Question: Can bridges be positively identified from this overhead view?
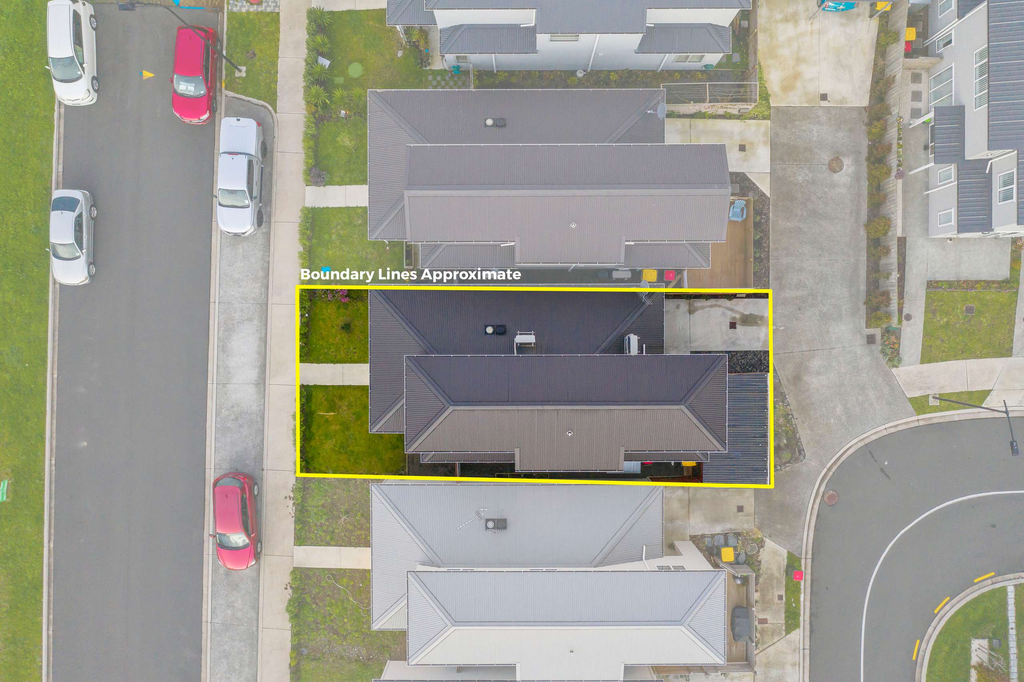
No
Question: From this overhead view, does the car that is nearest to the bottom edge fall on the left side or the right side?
left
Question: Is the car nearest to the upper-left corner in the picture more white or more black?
white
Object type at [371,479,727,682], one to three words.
house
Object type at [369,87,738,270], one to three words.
house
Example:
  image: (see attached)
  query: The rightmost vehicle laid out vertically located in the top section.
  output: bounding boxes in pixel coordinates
[210,117,267,238]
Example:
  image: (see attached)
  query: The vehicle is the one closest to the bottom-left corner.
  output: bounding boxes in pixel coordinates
[212,473,261,568]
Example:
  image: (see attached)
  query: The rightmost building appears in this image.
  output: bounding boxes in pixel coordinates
[907,0,1024,238]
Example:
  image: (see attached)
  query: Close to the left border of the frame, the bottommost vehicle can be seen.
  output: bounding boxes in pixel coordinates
[43,187,97,287]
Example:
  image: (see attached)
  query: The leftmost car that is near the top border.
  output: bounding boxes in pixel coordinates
[44,0,99,107]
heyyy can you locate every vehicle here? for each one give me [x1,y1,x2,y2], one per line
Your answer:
[210,117,267,238]
[44,0,99,107]
[212,473,261,568]
[43,187,97,287]
[165,24,222,123]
